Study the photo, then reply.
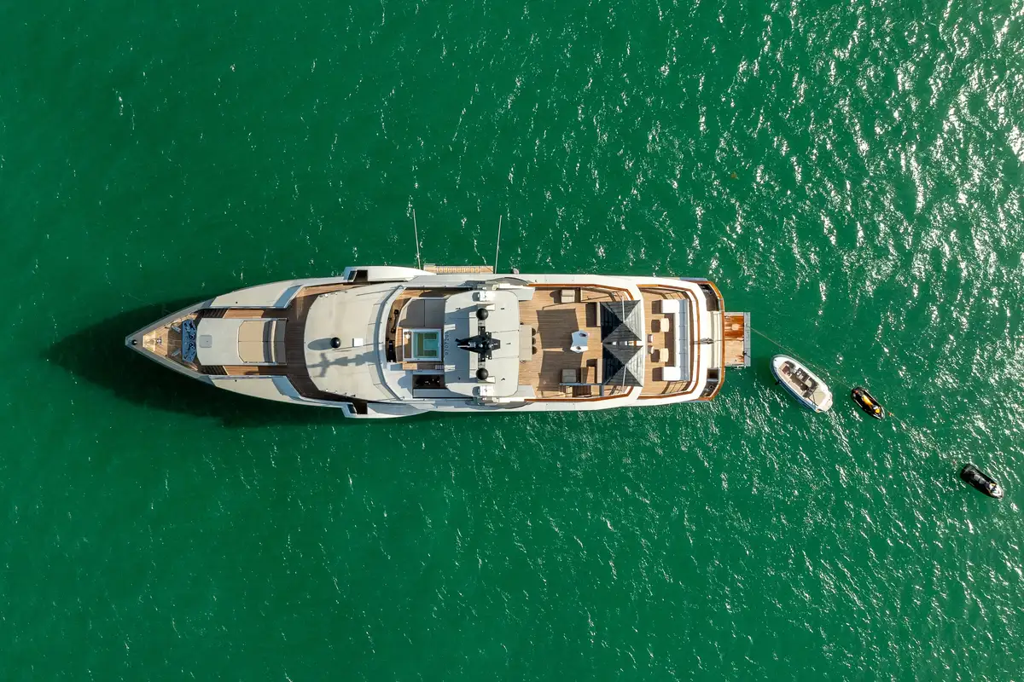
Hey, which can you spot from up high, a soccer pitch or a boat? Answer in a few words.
boat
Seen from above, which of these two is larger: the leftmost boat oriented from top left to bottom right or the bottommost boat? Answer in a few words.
the leftmost boat oriented from top left to bottom right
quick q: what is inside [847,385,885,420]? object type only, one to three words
boat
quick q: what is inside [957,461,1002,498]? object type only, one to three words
boat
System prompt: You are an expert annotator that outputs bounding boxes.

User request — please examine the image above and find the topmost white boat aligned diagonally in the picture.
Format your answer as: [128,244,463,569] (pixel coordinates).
[769,356,835,416]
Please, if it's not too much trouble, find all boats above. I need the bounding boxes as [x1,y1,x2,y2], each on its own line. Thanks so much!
[957,461,1002,498]
[847,385,885,420]
[769,356,835,416]
[125,209,751,418]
